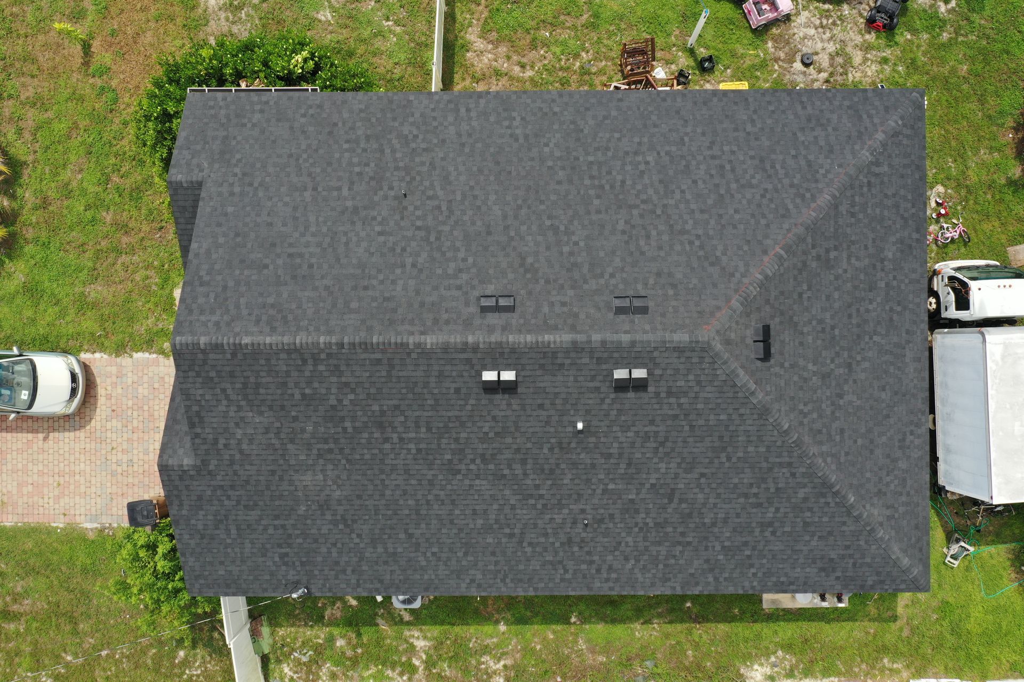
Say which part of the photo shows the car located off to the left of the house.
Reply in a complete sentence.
The car located off to the left of the house appears toward the left of the photo.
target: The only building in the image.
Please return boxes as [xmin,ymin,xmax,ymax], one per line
[158,85,931,608]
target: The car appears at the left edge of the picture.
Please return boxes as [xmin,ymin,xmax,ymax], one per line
[0,344,85,424]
